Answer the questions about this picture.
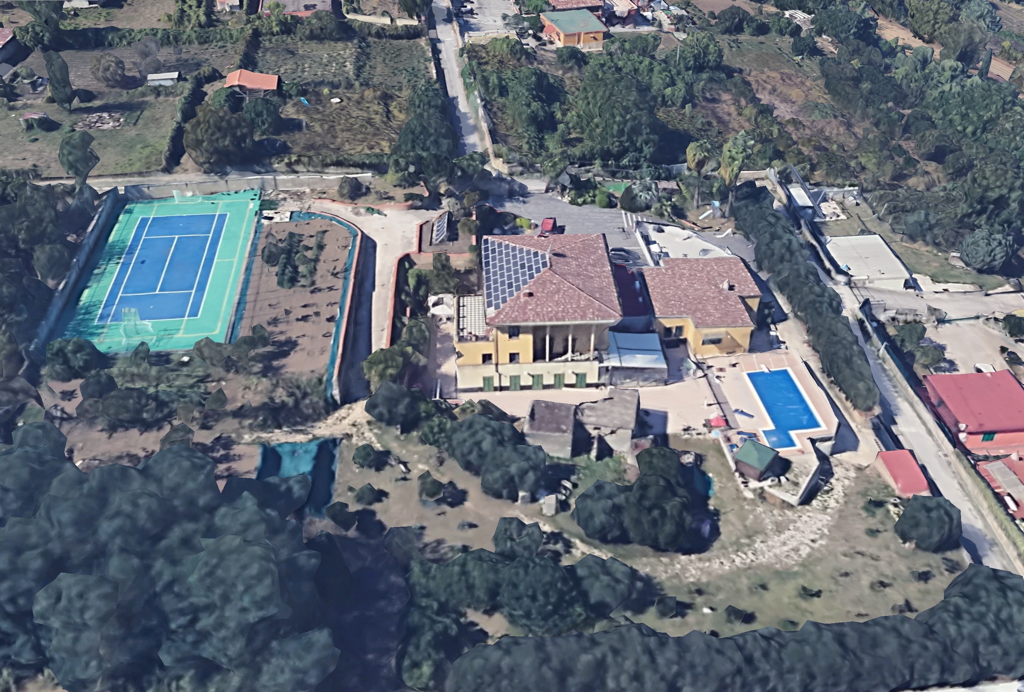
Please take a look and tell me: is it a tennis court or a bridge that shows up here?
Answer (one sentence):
There is a tennis court in the scene.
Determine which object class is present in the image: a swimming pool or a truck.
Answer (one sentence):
This aerial view contains a swimming pool.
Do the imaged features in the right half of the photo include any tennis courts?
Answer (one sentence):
No, I can find no tennis court in the right half of the photo.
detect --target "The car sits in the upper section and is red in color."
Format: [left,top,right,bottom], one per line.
[540,213,557,234]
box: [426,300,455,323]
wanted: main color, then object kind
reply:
white gazebo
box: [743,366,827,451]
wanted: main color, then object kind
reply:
blue swimming pool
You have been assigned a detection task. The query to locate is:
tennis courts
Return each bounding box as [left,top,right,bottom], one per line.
[37,189,261,355]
